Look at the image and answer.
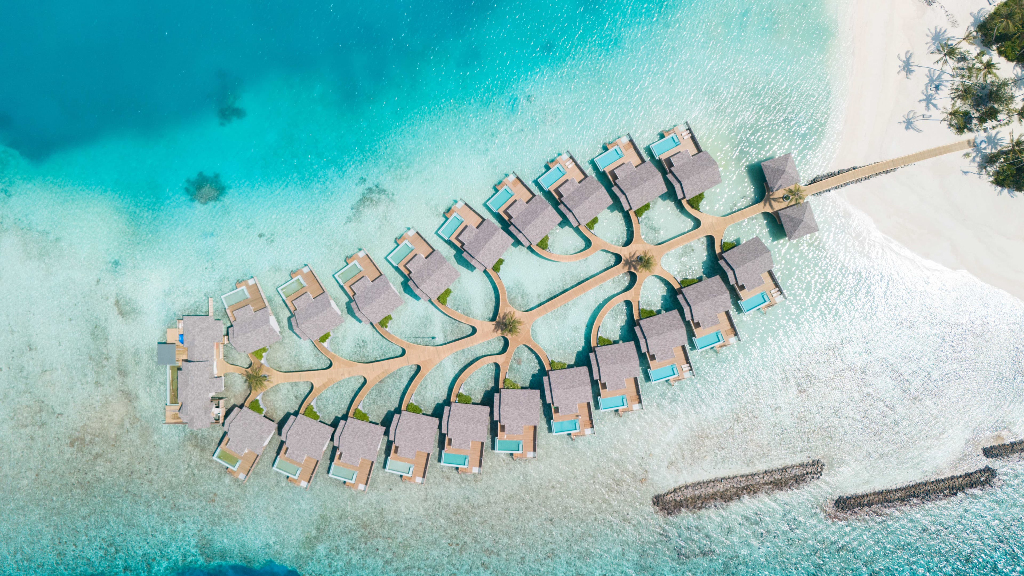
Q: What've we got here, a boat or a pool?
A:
pool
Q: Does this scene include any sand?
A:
Yes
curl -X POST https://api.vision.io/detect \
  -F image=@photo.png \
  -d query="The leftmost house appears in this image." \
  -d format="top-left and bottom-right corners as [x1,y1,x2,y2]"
[161,299,230,428]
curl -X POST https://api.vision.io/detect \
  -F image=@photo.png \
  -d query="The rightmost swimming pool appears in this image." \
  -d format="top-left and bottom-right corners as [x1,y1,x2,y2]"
[736,290,769,314]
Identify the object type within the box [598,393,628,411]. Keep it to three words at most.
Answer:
swimming pool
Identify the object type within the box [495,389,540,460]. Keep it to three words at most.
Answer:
house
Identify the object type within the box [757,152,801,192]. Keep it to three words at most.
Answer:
building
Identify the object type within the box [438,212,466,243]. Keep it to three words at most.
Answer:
swimming pool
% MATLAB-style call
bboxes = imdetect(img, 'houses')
[603,131,667,211]
[548,149,613,228]
[161,299,230,428]
[342,246,404,326]
[390,410,440,488]
[442,402,490,477]
[220,406,282,486]
[496,169,563,248]
[279,412,337,492]
[635,309,696,384]
[718,236,788,312]
[658,120,722,200]
[590,340,644,413]
[397,224,462,303]
[227,273,286,354]
[284,262,344,343]
[495,389,540,460]
[334,417,386,494]
[544,366,596,438]
[677,275,742,351]
[446,196,515,273]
